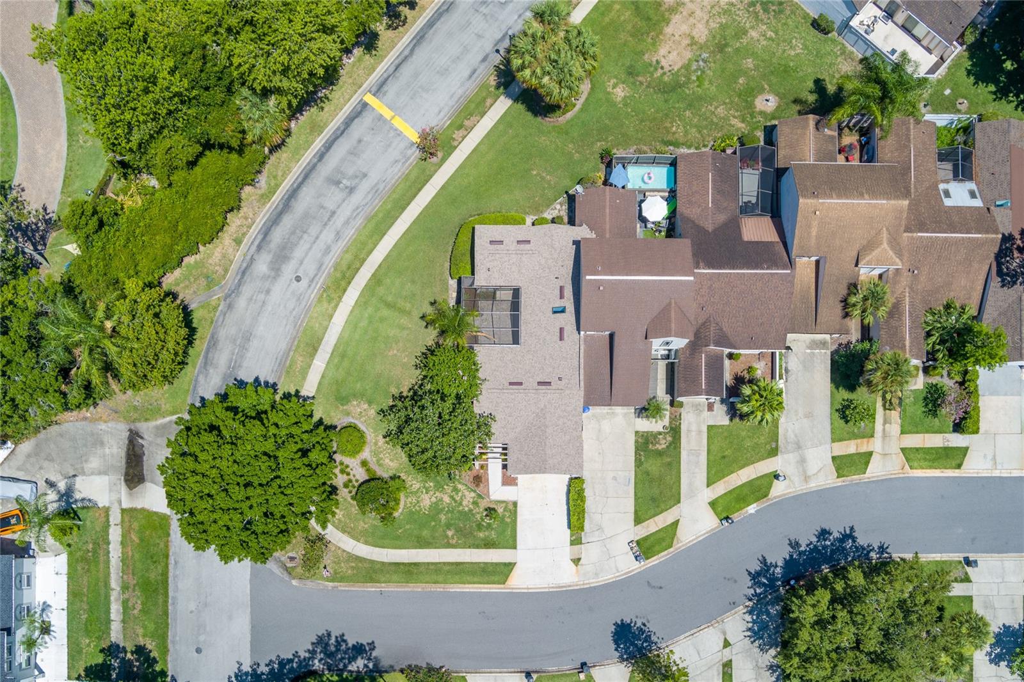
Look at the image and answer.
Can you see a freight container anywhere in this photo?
No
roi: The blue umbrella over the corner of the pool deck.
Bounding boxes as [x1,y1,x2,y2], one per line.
[608,165,630,187]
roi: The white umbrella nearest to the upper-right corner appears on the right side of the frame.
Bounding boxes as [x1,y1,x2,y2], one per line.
[641,197,666,222]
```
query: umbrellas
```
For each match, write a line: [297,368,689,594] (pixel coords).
[641,197,666,222]
[608,165,630,187]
